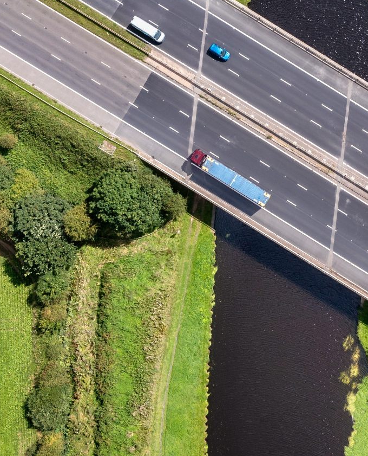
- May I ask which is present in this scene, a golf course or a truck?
truck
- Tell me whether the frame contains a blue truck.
Yes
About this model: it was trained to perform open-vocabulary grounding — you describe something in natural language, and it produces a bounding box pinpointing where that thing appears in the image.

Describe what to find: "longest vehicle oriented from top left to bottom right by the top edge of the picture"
[130,15,166,43]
